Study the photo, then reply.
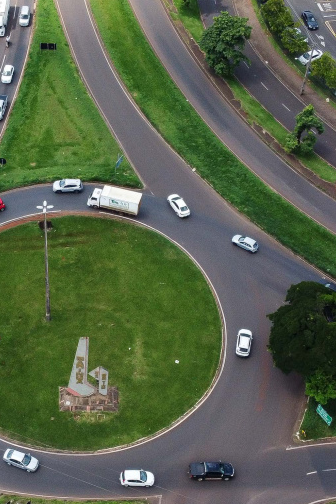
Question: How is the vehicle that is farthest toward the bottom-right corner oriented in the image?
from left to right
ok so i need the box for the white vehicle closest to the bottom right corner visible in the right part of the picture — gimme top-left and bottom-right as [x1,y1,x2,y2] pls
[237,329,253,358]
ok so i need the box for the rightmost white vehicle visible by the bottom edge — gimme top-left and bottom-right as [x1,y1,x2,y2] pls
[120,468,155,488]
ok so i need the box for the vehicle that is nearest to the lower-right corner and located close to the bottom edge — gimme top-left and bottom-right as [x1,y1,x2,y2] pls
[190,461,235,482]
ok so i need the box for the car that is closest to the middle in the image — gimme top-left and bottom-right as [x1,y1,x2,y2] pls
[166,197,191,218]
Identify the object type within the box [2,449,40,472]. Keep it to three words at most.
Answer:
car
